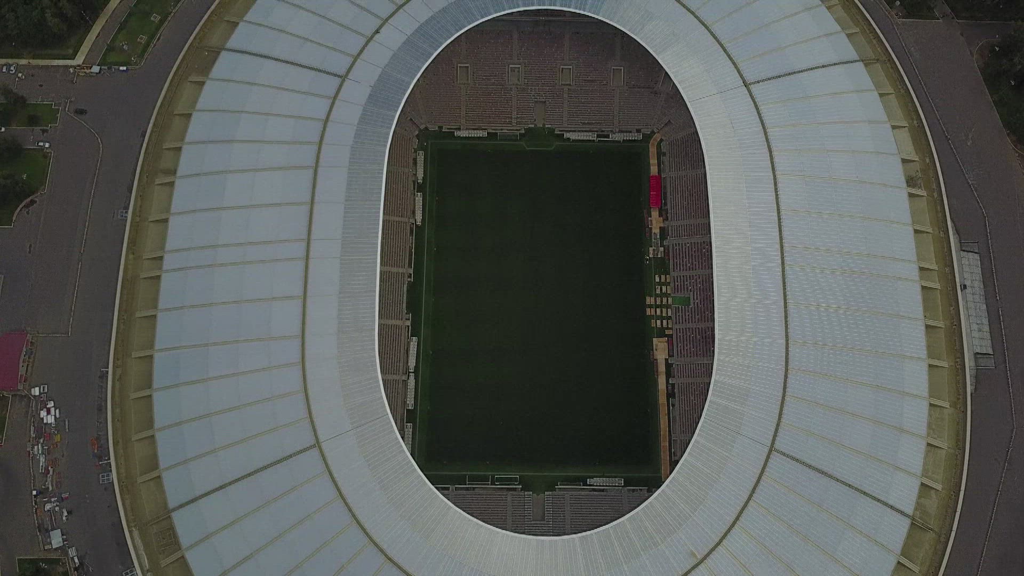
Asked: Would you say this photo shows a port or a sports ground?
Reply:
sports ground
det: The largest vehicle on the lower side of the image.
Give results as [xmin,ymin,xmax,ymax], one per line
[65,546,81,566]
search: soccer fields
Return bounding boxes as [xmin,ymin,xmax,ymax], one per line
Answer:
[400,119,675,494]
